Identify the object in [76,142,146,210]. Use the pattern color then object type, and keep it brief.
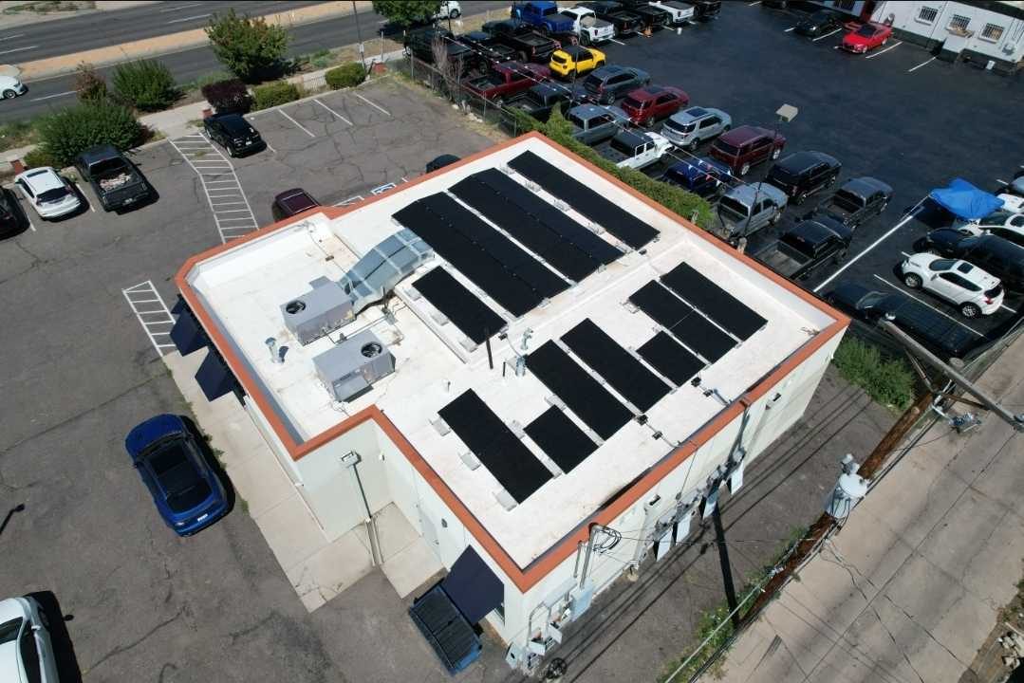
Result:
black truck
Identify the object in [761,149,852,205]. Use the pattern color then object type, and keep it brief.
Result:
black car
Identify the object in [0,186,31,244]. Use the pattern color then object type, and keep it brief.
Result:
black car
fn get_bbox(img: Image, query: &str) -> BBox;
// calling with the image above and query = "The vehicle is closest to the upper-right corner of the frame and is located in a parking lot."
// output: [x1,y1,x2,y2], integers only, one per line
[834,26,891,57]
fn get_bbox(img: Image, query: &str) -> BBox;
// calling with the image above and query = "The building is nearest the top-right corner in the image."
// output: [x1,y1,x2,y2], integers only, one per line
[849,0,1024,79]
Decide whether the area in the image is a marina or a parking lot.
parking lot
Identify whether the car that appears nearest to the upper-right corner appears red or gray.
red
